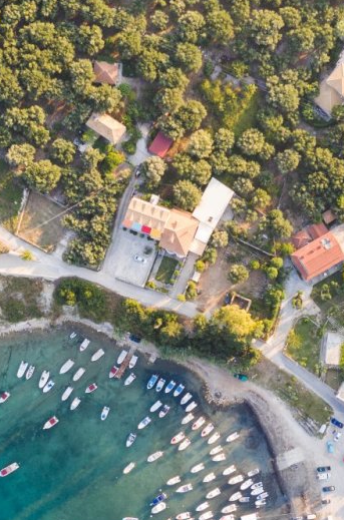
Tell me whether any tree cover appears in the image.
Yes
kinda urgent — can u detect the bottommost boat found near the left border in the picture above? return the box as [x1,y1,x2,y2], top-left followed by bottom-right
[0,461,22,475]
